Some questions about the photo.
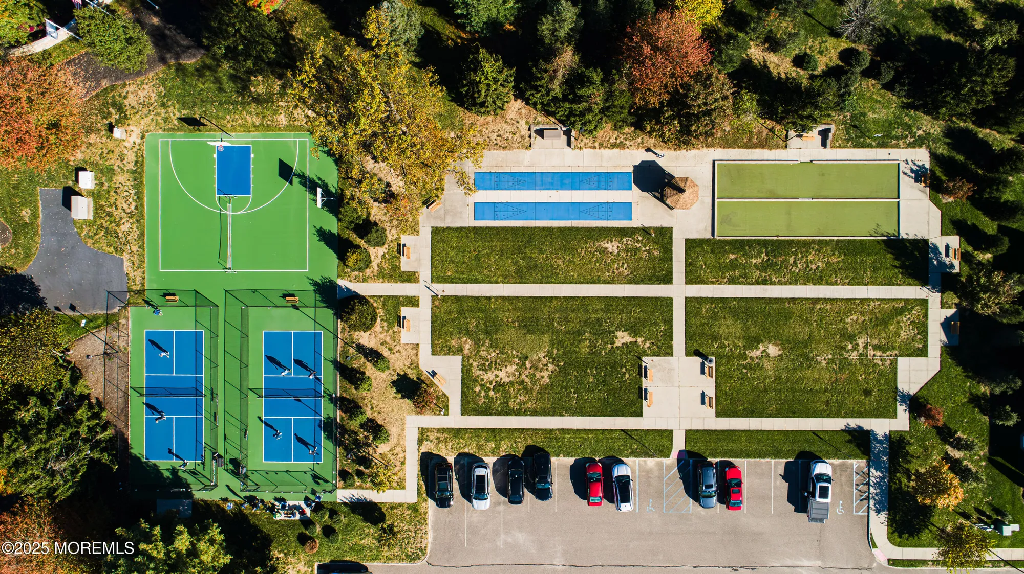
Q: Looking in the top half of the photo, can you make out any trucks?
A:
No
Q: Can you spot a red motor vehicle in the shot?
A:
Yes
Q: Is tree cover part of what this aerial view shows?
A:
Yes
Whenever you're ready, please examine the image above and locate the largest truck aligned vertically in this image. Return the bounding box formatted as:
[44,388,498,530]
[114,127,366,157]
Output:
[806,458,834,523]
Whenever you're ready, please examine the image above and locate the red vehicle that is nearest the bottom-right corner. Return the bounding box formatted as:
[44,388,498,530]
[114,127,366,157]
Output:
[723,465,744,509]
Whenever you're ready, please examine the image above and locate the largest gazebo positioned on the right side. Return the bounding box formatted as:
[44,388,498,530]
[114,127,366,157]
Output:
[661,175,700,211]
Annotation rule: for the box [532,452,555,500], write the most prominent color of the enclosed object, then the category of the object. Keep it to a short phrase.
black car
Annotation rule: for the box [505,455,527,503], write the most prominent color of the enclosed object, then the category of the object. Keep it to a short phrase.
black car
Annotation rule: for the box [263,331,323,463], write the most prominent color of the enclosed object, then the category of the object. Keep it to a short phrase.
blue sports court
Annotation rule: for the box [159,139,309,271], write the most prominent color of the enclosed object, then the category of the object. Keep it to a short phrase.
green basketball court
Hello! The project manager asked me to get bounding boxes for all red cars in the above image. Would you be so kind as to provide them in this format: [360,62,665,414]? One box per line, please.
[723,465,744,509]
[584,461,604,505]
